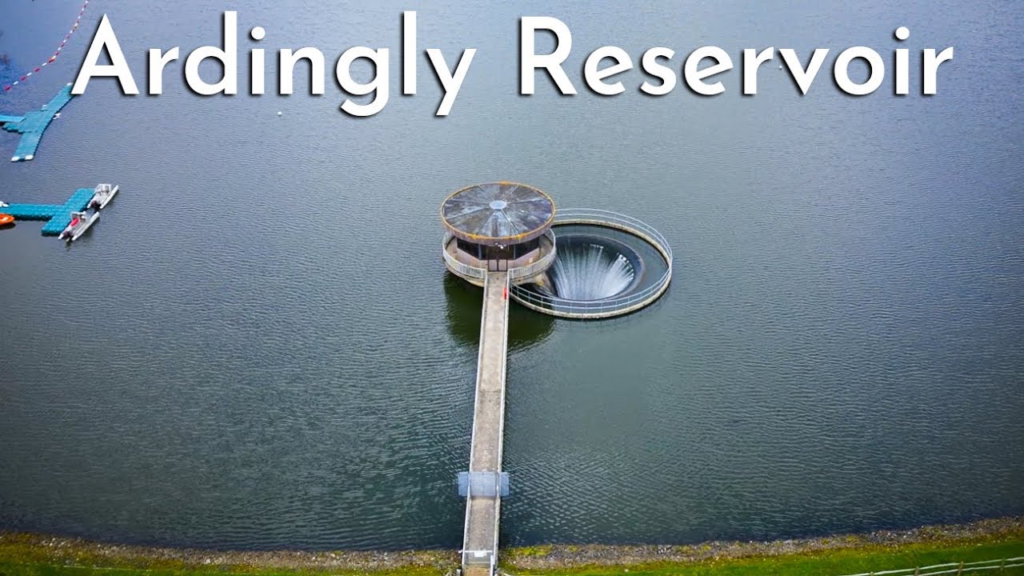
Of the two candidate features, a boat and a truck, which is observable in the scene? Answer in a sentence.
Visible in the photo is a boat.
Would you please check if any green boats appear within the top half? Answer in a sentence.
No, there is no green boat within the top half.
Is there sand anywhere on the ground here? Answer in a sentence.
No, there's no sand in this view.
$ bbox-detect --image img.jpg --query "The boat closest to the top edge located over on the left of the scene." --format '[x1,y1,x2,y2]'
[84,179,119,212]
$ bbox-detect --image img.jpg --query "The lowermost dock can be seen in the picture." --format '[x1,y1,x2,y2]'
[0,188,97,237]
